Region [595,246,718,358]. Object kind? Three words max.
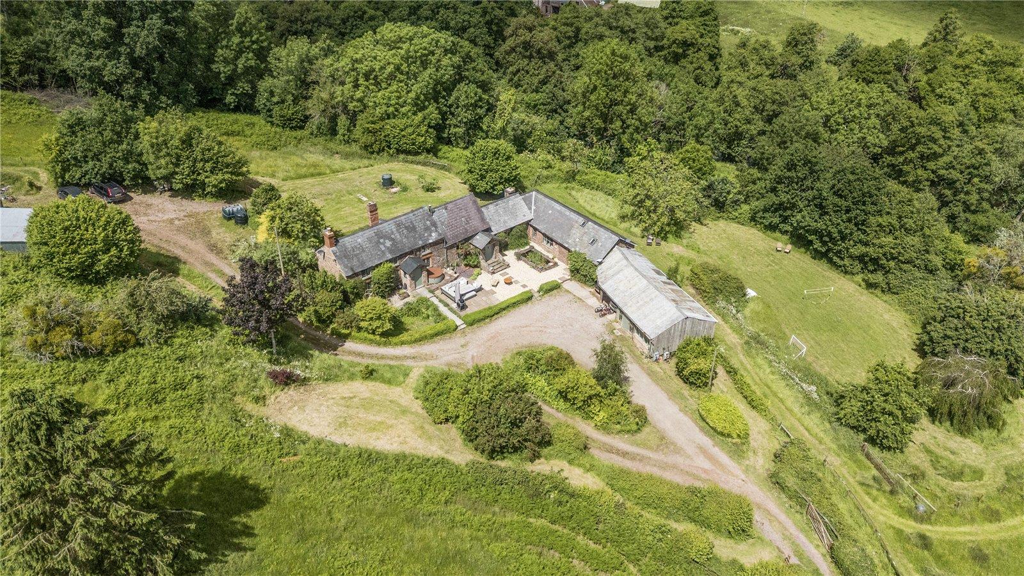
barn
